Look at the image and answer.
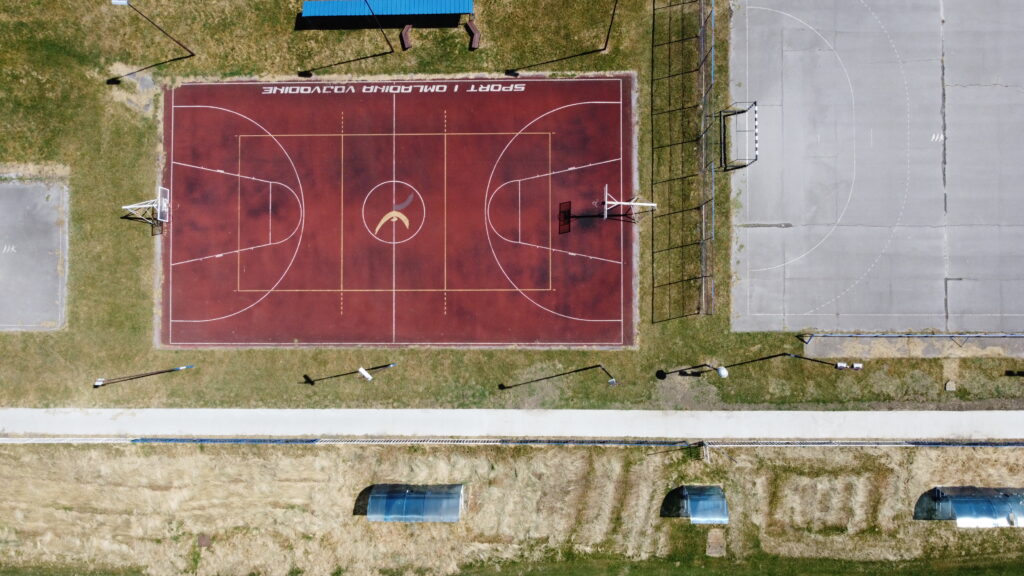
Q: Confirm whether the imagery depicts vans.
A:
No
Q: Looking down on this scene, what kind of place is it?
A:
sports ground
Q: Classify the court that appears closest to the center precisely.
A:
basketball court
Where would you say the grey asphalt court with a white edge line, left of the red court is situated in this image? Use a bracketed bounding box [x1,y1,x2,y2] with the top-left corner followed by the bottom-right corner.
[0,175,69,331]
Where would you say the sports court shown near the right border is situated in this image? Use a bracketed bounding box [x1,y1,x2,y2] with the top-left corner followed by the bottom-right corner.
[731,0,1024,332]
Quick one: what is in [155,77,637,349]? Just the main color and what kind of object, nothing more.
red basketball court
